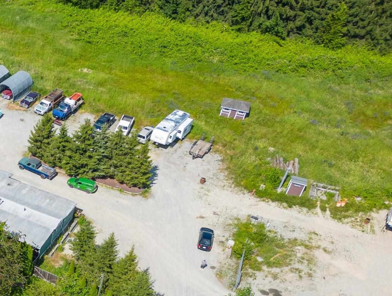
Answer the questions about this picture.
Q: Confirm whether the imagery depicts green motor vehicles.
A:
Yes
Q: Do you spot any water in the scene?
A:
No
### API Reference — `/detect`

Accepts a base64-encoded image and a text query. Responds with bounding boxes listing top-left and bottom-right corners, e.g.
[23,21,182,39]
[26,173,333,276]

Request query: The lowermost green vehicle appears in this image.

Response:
[66,177,97,194]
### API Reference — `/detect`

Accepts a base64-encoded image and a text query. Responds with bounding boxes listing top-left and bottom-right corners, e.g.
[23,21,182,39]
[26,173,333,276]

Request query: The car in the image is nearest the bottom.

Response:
[196,226,215,252]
